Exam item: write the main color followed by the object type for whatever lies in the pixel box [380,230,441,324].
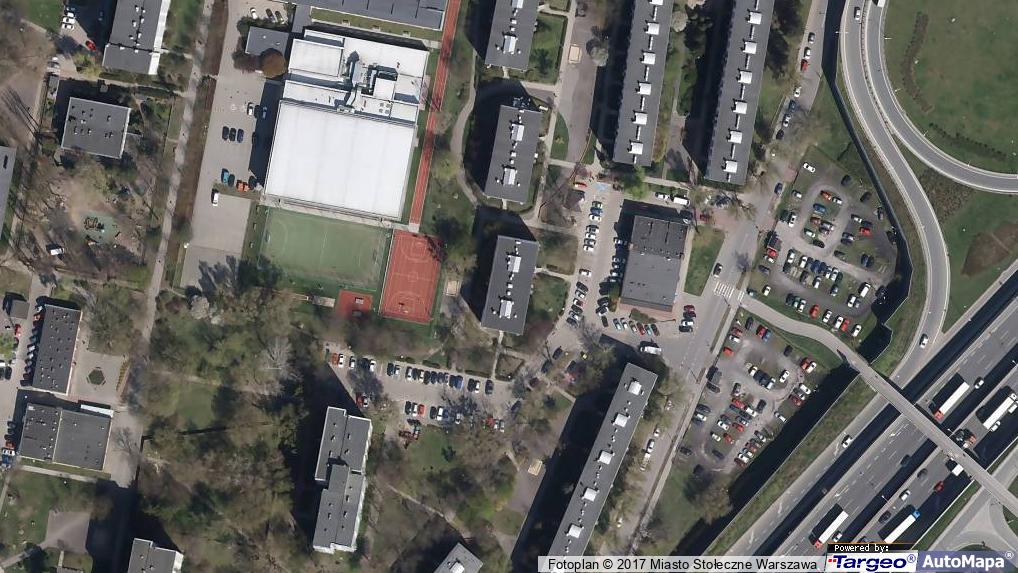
red basketball court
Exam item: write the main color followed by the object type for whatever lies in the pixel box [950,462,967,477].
white vehicle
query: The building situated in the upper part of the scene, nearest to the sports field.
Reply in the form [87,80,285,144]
[264,30,430,224]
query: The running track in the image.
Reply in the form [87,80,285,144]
[409,0,460,232]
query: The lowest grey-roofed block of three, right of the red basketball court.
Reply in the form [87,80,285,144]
[481,236,541,335]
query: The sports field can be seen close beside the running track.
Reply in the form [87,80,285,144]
[257,209,391,291]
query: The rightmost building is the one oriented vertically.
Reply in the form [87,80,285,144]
[702,0,776,186]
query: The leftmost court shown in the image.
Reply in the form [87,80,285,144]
[334,290,373,319]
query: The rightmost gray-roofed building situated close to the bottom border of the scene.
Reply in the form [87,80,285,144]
[540,363,659,573]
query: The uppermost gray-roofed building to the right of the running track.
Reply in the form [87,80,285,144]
[485,0,543,75]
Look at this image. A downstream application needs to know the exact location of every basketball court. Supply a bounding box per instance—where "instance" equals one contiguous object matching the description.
[334,290,373,319]
[380,230,441,324]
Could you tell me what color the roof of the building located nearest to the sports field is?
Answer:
white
